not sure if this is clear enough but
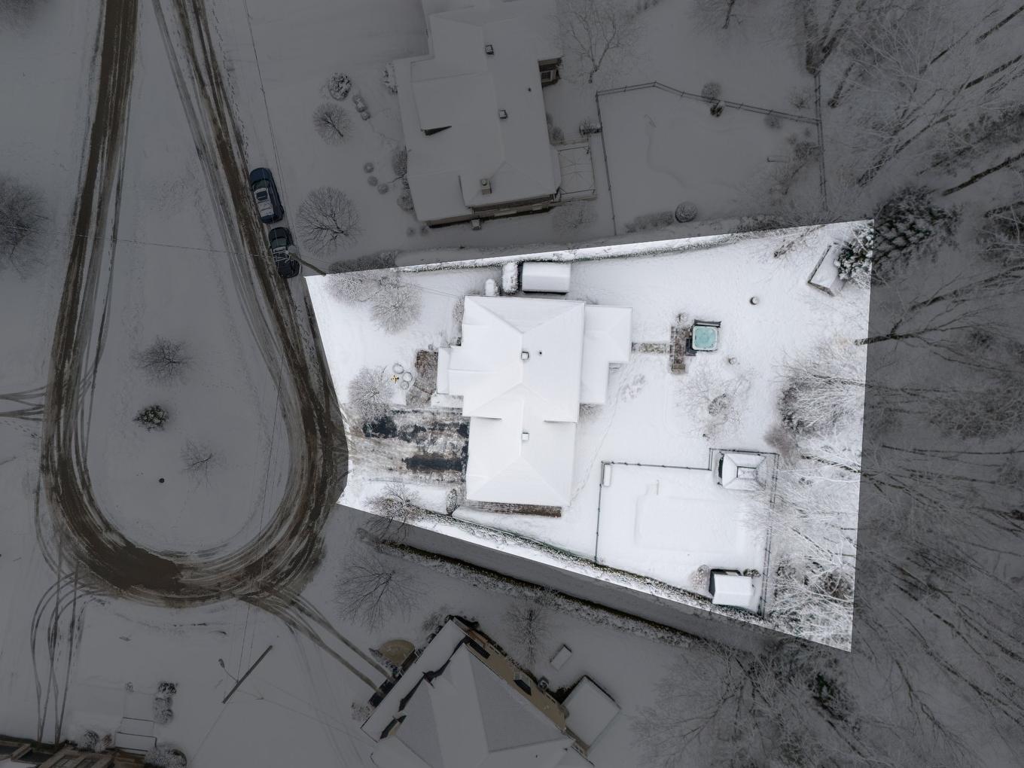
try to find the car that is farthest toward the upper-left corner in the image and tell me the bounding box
[247,163,283,225]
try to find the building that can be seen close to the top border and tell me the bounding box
[393,0,563,222]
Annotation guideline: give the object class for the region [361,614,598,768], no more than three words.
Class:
house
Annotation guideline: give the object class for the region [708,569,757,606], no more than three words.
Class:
shed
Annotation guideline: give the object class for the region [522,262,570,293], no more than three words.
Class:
shed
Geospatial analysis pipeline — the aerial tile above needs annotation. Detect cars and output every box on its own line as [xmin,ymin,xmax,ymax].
[266,222,301,283]
[247,163,283,225]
